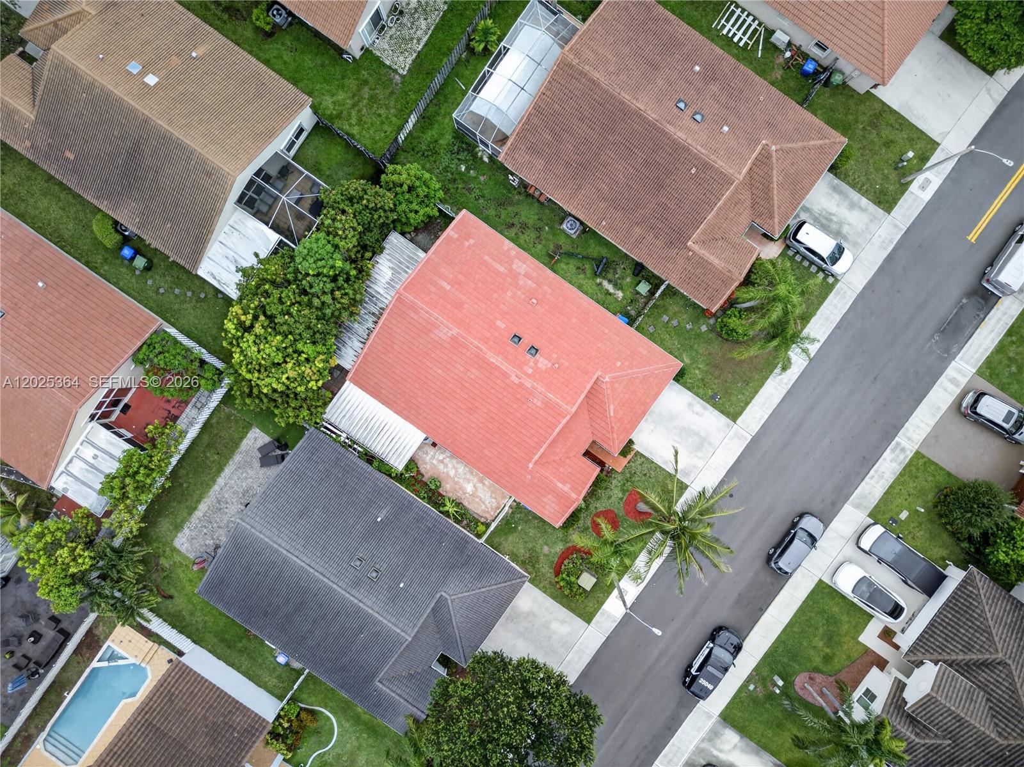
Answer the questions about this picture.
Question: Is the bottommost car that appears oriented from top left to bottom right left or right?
right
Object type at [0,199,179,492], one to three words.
house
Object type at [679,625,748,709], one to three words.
car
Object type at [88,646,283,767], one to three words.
house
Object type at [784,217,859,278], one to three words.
car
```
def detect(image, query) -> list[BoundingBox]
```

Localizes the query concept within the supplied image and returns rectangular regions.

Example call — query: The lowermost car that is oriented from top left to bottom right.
[831,561,909,626]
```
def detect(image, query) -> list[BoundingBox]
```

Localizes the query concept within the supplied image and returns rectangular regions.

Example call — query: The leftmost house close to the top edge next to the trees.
[0,0,316,276]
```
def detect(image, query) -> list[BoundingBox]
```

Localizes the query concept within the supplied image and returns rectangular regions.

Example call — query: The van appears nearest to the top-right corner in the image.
[985,223,1024,297]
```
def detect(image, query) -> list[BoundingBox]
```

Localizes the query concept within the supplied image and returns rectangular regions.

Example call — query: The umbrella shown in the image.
[1,679,27,697]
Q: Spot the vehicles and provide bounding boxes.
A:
[784,217,859,278]
[679,625,748,709]
[959,387,1024,445]
[831,561,909,626]
[767,512,829,583]
[985,223,1024,297]
[852,520,948,599]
